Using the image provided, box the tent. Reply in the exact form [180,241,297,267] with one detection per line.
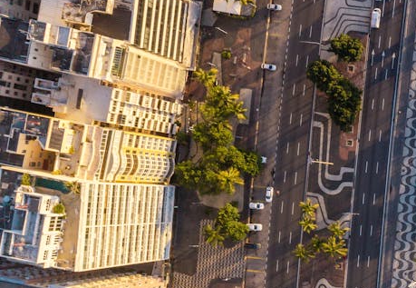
[213,0,244,16]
